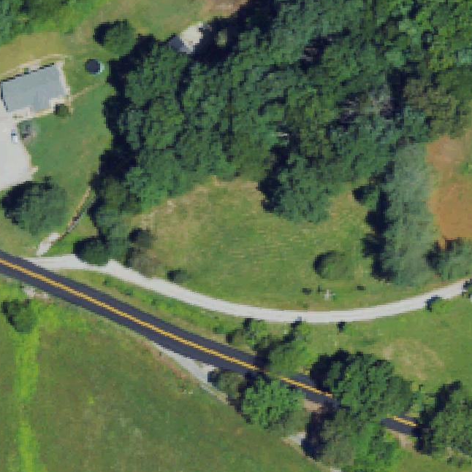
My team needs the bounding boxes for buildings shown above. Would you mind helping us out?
[169,35,189,57]
[0,64,67,112]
